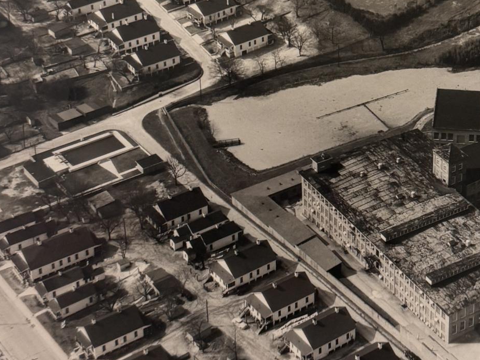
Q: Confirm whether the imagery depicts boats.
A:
No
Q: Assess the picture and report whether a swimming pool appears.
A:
Yes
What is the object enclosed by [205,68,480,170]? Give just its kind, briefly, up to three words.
pond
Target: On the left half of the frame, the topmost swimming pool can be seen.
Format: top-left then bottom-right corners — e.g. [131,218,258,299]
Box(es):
[52,130,134,171]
